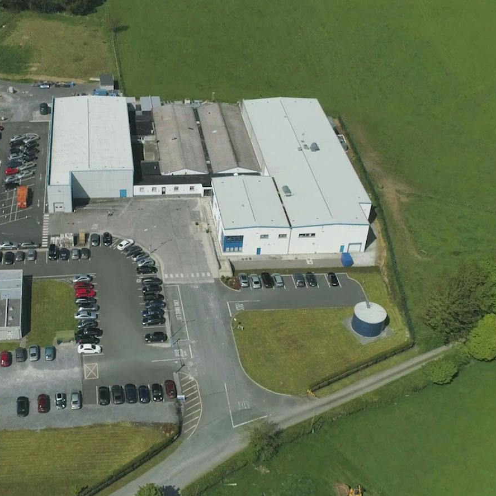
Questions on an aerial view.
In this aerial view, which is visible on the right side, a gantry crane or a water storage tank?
water storage tank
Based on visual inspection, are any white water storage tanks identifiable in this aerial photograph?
Yes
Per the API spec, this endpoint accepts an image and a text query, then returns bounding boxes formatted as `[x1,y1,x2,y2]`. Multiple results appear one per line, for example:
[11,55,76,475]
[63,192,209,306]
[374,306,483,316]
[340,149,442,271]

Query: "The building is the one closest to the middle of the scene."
[211,175,289,255]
